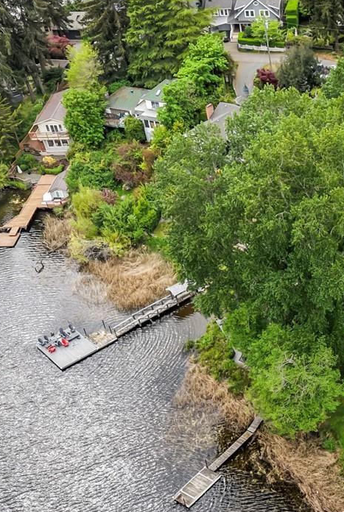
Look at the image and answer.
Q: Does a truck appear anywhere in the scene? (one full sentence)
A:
No, the frame has no truck in it.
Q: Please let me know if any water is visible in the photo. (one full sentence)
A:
Yes, water shows up in the scene.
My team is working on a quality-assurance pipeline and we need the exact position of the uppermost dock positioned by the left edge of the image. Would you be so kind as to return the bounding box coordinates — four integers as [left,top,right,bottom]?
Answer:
[3,175,51,239]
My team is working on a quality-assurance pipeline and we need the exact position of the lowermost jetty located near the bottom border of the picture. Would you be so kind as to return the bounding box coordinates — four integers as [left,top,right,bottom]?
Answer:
[173,417,259,510]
